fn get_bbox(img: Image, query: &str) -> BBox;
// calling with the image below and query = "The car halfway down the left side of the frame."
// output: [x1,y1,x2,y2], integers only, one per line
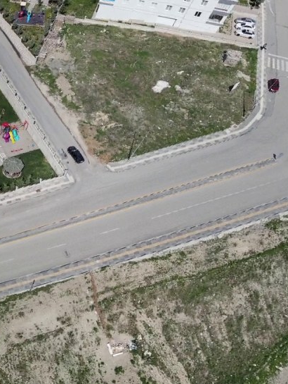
[65,144,86,160]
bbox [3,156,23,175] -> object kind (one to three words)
gazebo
